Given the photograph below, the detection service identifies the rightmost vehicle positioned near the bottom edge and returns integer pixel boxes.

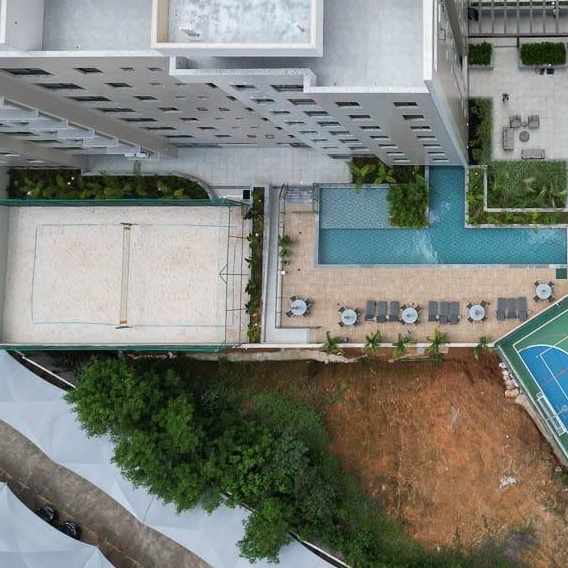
[59,514,88,540]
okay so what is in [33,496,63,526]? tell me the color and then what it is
black car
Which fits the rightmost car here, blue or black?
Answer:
black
